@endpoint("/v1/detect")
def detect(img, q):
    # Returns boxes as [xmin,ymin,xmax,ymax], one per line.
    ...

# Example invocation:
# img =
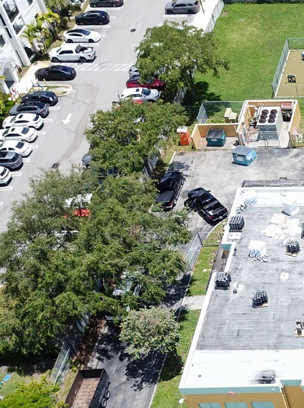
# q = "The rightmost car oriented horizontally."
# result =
[163,0,201,14]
